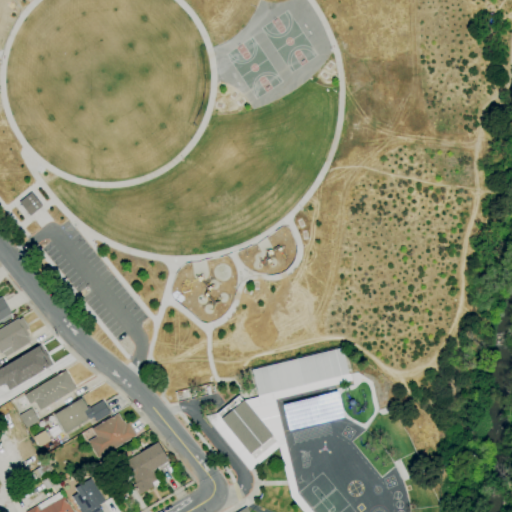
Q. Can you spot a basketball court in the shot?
Yes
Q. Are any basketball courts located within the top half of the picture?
Yes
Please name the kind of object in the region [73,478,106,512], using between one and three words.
house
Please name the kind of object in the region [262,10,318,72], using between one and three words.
basketball court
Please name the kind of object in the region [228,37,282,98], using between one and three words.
basketball court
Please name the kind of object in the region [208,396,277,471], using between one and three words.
building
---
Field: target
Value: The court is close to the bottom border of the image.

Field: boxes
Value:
[300,473,355,512]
